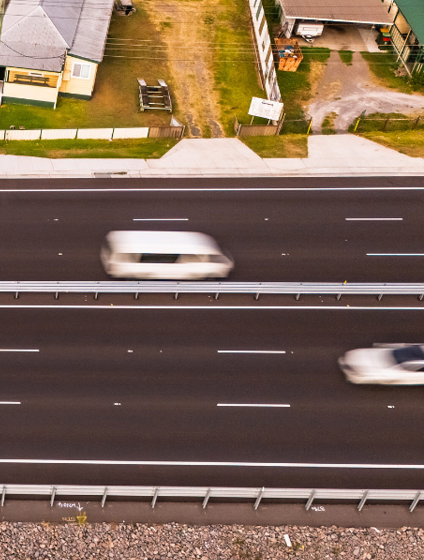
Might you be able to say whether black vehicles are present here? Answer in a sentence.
No, there is no black vehicle in the image.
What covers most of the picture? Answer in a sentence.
Most of the picture is covered by paved ground.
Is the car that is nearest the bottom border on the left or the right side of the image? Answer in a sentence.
The car that is nearest the bottom border appears in the right half of the scene.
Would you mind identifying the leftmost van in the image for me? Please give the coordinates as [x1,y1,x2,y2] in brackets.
[103,227,231,278]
